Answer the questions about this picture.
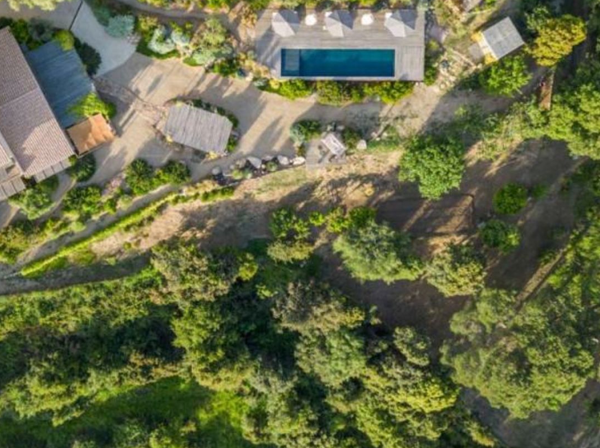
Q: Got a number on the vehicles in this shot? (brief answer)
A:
none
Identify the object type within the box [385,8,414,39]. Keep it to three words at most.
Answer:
umbrella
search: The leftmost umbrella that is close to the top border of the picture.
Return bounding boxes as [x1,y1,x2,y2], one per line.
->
[271,8,302,38]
